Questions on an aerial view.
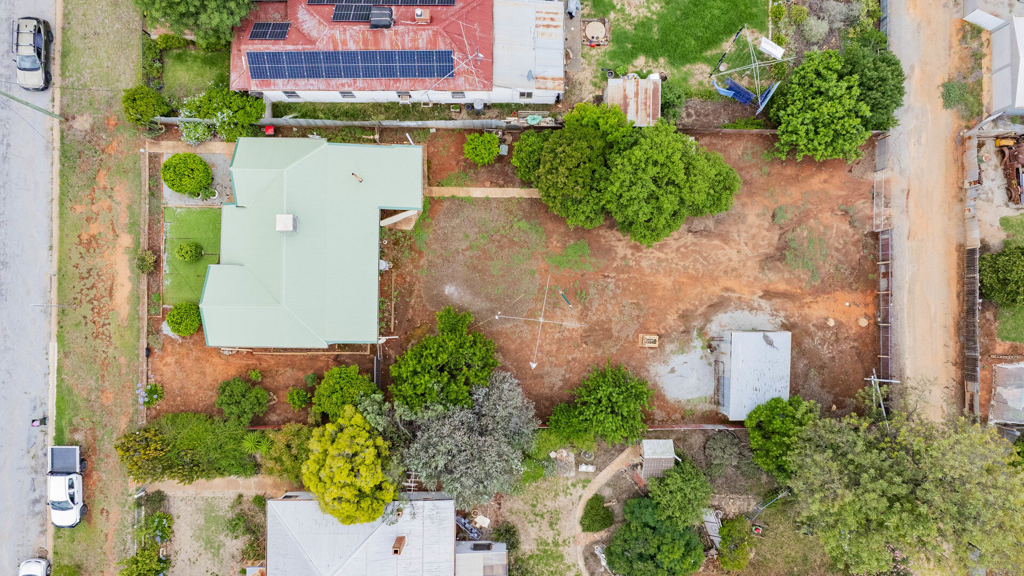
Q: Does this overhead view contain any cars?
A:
Yes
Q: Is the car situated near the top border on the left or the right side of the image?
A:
left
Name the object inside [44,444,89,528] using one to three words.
vehicle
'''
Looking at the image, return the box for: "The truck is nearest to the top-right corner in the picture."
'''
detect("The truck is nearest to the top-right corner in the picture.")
[999,146,1024,204]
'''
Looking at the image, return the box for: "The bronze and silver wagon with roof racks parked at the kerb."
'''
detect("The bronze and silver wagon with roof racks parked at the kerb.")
[9,18,56,93]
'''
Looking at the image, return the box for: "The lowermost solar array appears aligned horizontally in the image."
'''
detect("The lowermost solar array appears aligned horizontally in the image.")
[247,51,455,80]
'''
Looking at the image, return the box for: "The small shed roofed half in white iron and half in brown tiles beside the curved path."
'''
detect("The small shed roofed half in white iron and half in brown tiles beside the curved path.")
[641,439,681,480]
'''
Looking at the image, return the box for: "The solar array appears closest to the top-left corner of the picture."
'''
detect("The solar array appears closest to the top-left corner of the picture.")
[249,21,290,38]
